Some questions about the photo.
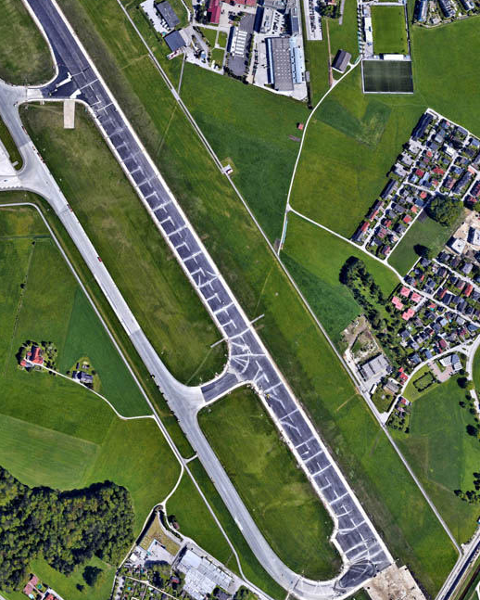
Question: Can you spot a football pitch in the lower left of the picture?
No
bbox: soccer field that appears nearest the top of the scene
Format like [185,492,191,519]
[369,6,407,54]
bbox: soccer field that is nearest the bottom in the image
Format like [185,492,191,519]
[361,59,413,94]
